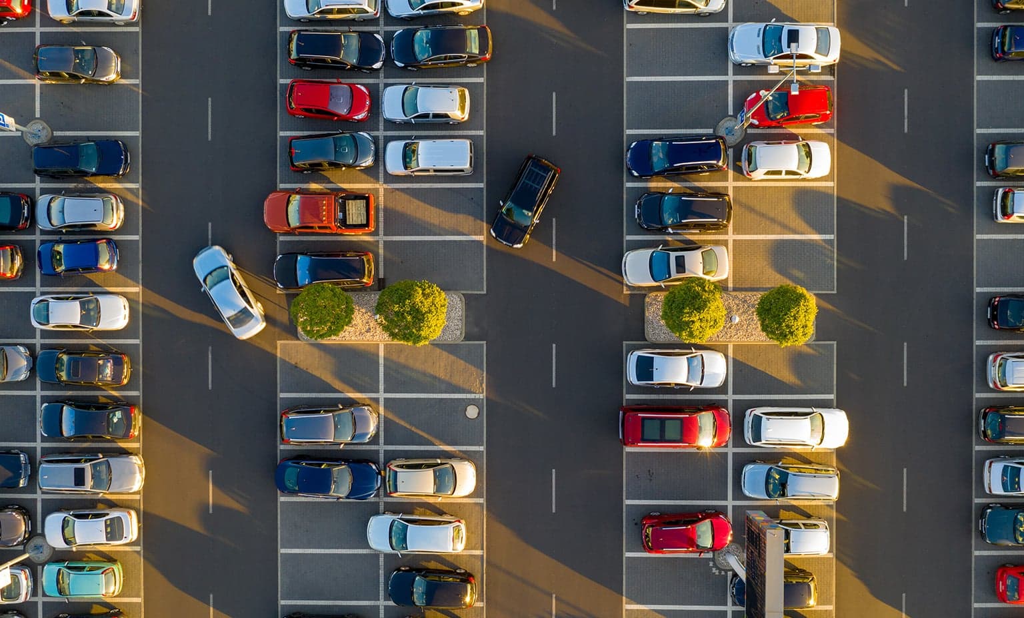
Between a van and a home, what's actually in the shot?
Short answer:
van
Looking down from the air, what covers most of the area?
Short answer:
paved ground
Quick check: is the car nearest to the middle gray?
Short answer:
No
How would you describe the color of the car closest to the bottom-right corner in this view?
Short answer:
red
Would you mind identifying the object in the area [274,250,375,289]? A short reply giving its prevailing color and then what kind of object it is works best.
black car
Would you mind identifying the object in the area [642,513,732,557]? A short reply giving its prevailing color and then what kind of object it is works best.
red car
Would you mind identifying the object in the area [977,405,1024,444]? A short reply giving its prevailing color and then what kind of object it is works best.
black car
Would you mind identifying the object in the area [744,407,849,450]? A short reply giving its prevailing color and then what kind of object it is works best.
white car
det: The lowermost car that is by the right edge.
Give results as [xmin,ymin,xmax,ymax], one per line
[994,561,1024,604]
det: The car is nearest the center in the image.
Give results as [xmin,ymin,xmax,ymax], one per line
[490,153,562,247]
